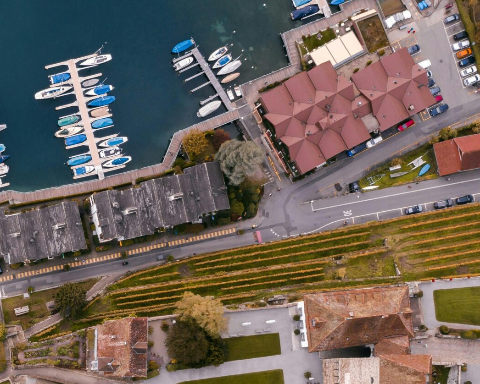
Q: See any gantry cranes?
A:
No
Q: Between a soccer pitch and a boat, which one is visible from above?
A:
boat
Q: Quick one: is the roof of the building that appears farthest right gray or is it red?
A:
red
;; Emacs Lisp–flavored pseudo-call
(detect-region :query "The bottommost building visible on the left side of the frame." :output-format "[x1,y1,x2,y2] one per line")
[91,318,148,377]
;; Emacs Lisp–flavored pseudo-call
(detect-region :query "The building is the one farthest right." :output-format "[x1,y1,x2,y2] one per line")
[425,134,480,177]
